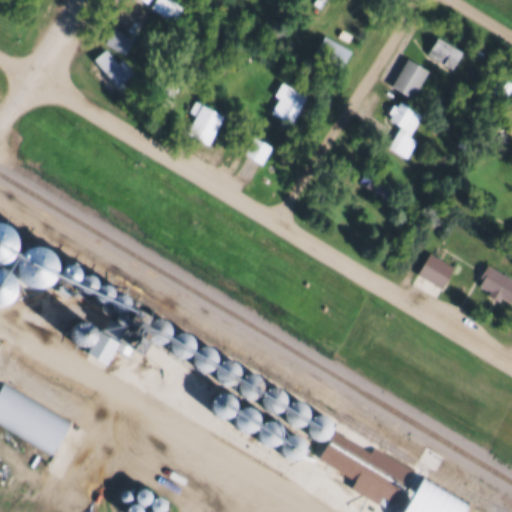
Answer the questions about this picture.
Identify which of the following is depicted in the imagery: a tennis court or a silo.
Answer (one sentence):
There is a silo in the scene.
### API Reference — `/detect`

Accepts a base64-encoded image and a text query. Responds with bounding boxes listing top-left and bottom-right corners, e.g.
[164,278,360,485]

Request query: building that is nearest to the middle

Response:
[246,138,273,166]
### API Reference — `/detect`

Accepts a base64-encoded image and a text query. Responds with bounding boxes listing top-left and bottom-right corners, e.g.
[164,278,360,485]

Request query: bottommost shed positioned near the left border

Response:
[0,385,71,454]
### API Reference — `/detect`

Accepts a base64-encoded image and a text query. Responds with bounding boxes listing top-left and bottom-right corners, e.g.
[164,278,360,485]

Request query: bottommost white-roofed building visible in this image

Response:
[404,478,470,512]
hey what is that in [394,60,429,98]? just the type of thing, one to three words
barn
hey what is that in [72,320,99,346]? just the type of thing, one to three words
silo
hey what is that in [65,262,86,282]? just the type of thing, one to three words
silo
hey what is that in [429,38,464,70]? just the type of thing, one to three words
house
